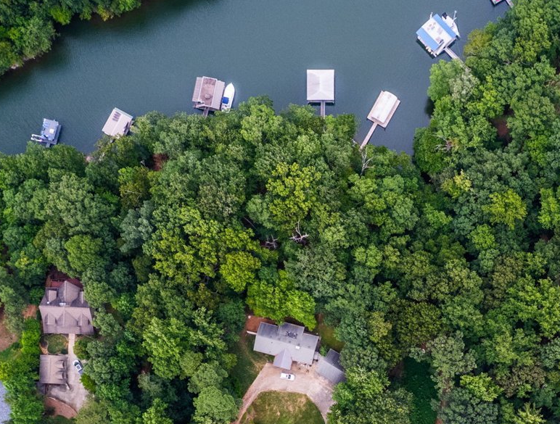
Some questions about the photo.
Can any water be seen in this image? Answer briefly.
Yes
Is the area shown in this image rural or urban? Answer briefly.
rural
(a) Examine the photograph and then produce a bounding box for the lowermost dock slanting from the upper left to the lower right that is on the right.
[416,15,474,73]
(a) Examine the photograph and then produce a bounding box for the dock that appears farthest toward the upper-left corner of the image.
[40,118,62,145]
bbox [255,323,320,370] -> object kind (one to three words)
house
